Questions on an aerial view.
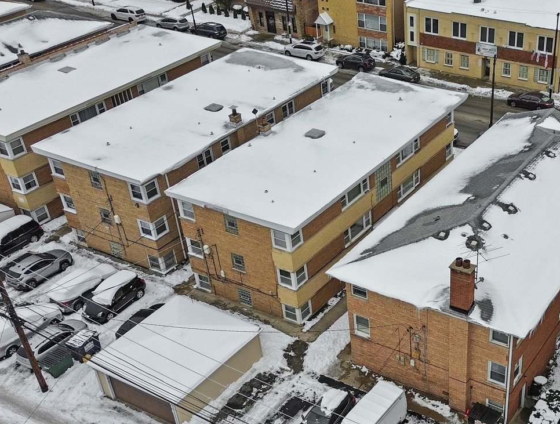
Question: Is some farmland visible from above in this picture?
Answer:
No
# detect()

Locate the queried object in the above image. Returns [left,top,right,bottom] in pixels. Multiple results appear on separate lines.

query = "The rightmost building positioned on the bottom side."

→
[325,111,560,423]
